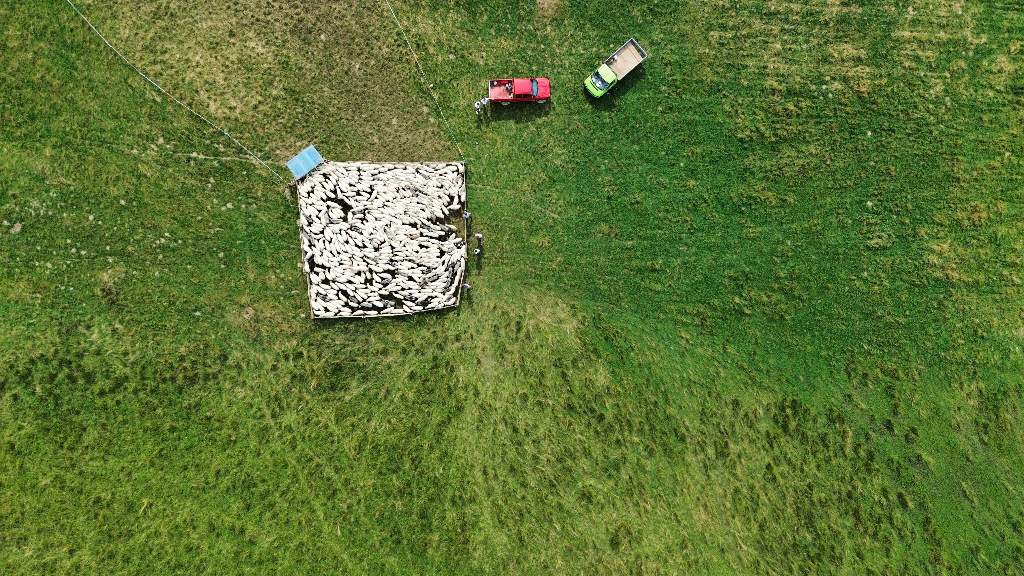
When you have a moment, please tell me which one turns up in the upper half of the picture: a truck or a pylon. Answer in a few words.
truck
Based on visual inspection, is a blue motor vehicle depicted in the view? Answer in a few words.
No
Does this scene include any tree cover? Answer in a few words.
No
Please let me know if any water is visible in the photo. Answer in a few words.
No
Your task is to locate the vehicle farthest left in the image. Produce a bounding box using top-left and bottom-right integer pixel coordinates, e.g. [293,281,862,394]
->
[487,78,551,106]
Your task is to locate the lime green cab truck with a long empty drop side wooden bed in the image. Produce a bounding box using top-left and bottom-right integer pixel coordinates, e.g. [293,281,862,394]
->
[583,38,648,101]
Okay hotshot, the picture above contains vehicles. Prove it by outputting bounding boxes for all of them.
[583,38,648,101]
[487,78,551,106]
